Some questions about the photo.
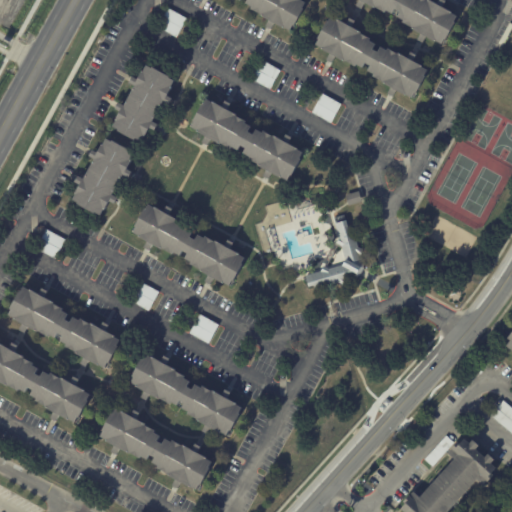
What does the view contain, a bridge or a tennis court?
tennis court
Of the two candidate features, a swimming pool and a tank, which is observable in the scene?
swimming pool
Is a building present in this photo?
Yes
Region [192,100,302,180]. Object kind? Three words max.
building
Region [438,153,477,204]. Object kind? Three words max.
tennis court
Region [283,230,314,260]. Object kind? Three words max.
swimming pool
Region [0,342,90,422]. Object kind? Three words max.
building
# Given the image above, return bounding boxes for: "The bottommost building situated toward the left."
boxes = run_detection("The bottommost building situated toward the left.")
[100,410,211,489]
